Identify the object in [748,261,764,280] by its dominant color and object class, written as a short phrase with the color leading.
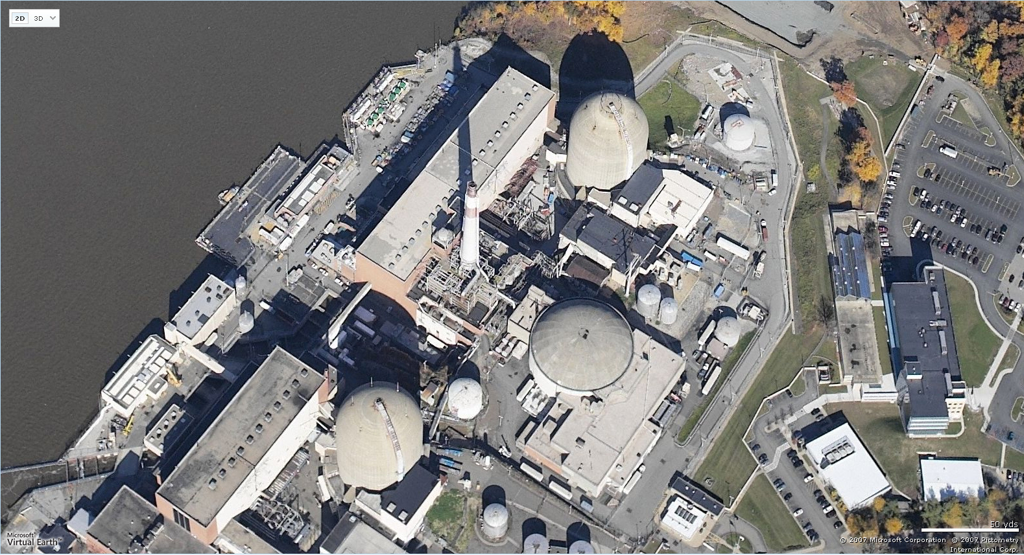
white vehicle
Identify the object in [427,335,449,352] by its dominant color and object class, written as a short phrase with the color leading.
white vehicle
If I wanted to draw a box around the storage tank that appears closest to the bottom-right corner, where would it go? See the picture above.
[713,317,743,350]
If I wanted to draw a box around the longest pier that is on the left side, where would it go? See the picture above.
[194,143,305,273]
